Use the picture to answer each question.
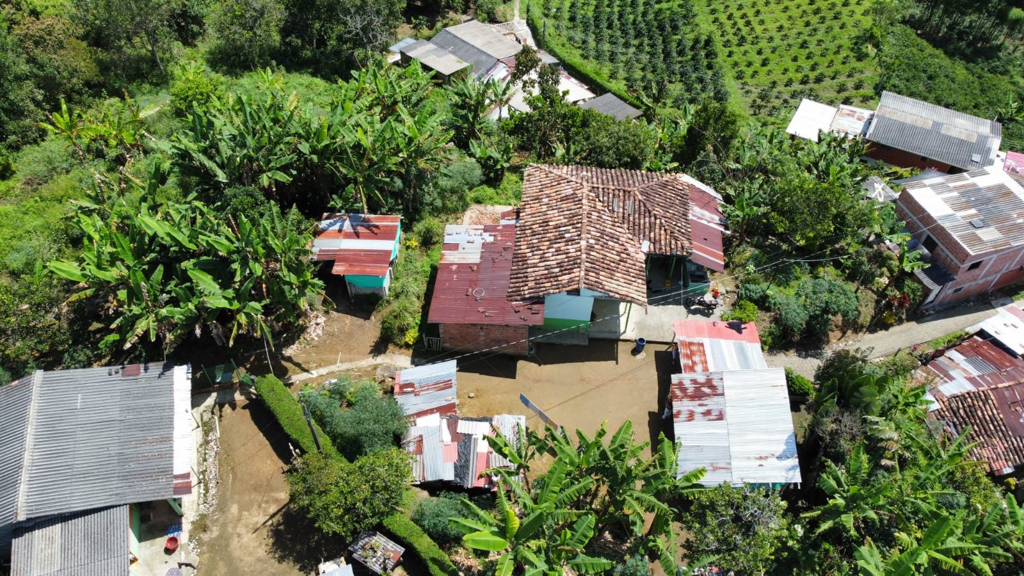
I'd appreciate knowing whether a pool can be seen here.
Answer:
No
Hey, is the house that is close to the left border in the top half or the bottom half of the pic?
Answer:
bottom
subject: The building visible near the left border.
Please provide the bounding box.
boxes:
[0,363,200,576]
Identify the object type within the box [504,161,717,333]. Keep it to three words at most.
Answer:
house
